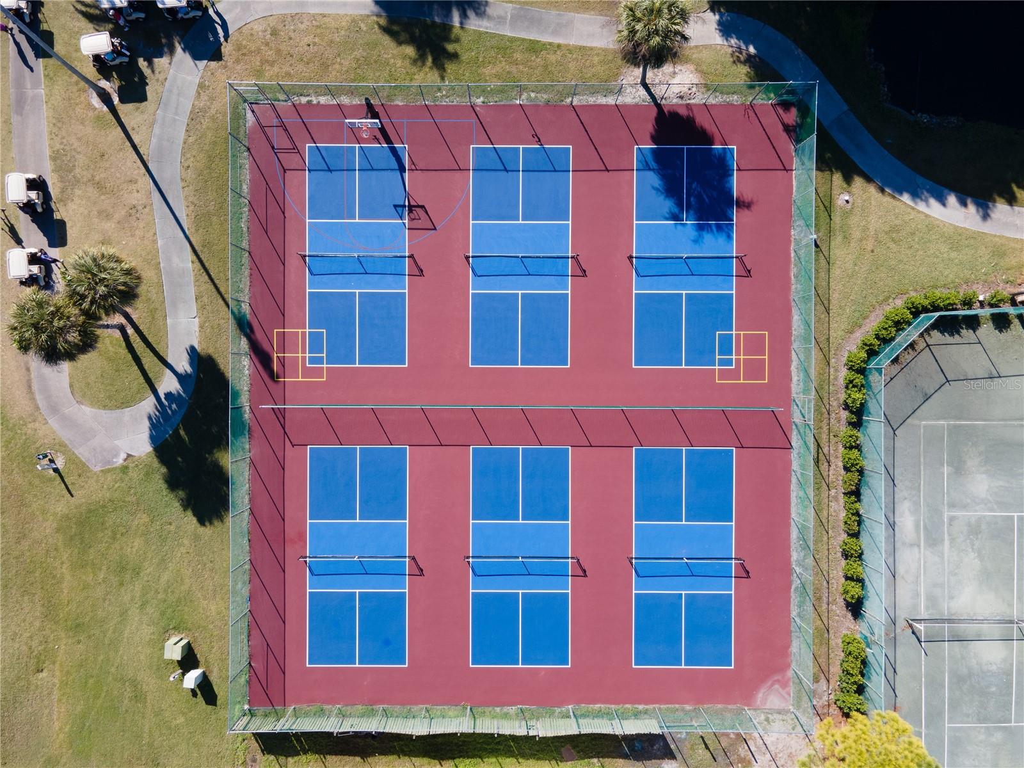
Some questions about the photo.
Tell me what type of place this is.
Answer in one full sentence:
What you see here is a sports ground.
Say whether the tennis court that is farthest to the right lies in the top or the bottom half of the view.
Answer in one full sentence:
The tennis court that is farthest to the right sits in the bottom half of the picture.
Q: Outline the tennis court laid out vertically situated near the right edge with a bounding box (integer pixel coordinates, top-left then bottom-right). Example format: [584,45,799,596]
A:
[860,309,1024,768]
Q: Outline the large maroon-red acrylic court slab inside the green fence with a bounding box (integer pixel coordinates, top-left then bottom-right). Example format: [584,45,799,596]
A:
[247,103,796,709]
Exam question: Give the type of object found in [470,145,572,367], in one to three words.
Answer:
sports court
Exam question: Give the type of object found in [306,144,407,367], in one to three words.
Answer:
sports court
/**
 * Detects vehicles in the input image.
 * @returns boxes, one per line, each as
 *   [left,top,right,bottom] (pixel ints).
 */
[6,245,49,289]
[82,30,134,68]
[0,0,37,22]
[161,0,209,22]
[5,173,47,215]
[101,0,151,21]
